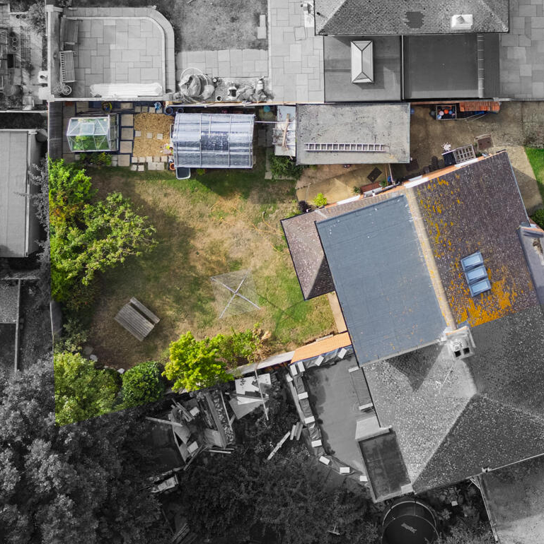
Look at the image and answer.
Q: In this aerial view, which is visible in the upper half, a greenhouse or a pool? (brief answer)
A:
greenhouse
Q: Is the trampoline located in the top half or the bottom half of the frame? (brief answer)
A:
bottom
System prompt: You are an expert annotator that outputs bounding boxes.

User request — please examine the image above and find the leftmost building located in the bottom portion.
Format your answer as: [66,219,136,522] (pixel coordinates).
[210,384,237,447]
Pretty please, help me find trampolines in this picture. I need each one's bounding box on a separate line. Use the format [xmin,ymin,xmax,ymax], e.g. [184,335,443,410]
[382,497,439,544]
